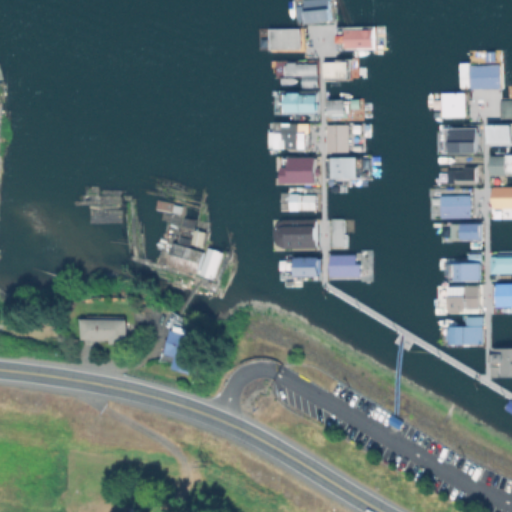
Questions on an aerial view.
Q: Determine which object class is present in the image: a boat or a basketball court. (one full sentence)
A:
This aerial view contains a boat.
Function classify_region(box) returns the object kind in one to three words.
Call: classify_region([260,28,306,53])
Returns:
boat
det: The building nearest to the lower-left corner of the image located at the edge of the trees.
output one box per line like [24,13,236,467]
[78,320,130,346]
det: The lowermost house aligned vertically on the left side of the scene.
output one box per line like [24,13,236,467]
[160,313,187,373]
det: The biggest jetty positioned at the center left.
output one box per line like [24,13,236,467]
[128,196,145,258]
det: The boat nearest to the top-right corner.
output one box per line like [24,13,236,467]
[460,50,506,90]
